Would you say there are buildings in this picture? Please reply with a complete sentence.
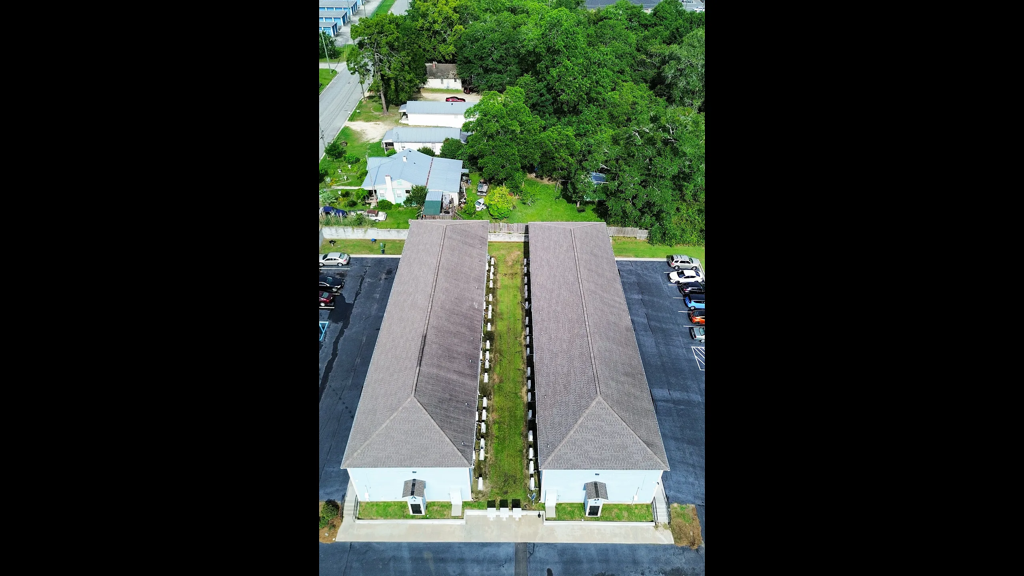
Yes, there's a building here.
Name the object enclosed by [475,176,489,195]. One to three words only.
car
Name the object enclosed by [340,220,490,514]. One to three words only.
building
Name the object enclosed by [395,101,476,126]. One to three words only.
house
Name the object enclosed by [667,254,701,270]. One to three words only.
car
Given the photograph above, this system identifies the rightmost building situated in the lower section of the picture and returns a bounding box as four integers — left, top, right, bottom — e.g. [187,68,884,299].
[527,222,670,515]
